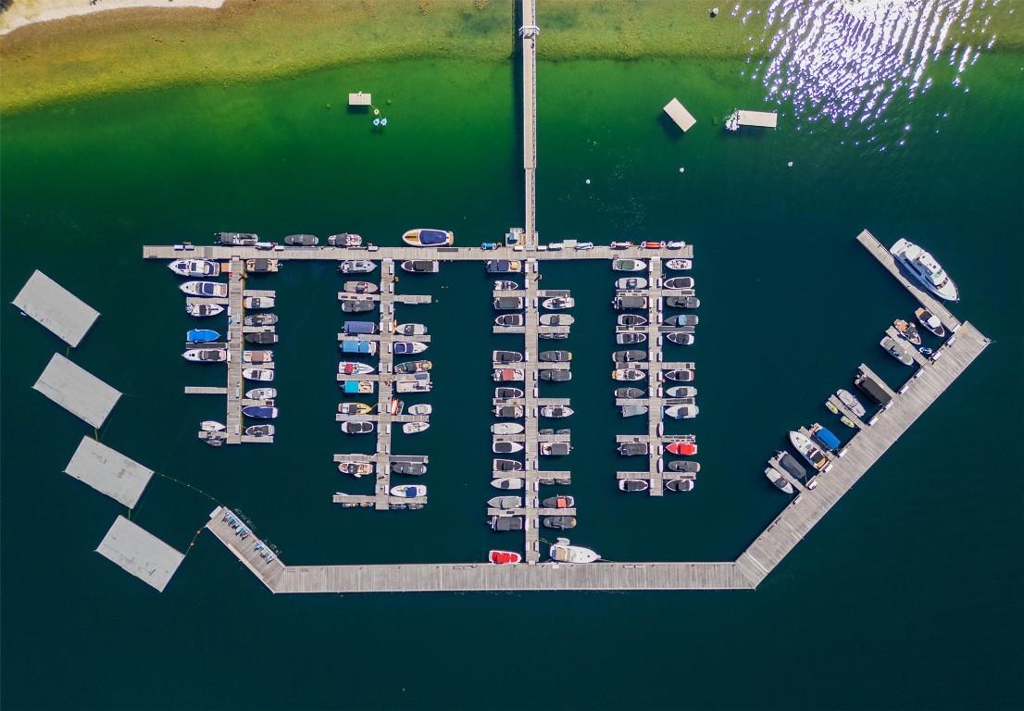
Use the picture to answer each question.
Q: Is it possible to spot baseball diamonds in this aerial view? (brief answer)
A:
No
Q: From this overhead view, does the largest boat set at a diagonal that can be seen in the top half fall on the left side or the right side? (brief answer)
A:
right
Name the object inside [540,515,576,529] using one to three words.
boat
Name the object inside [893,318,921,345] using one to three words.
boat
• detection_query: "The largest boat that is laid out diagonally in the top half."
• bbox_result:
[889,238,961,301]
